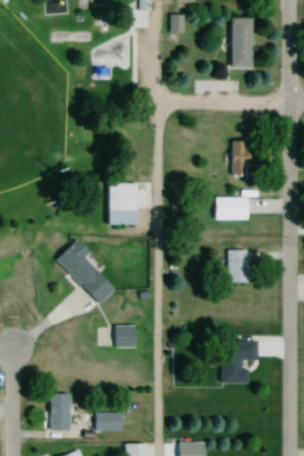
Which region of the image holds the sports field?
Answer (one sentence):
The sports field sits in the top left section of the image.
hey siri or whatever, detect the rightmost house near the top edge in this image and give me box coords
[232,18,254,67]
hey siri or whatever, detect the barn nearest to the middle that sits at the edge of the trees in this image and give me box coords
[110,182,138,224]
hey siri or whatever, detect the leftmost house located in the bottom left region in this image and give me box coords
[43,392,71,429]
